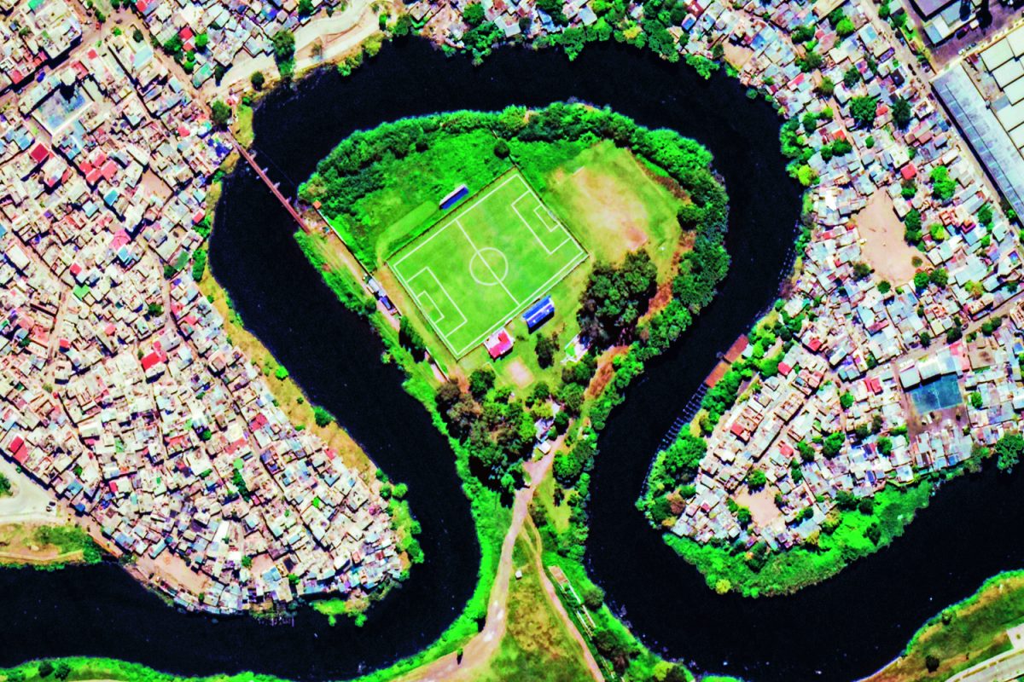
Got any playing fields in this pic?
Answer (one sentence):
Yes, a playing field appears in the view.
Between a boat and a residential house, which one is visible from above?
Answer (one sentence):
Looking from above, you can make out a residential house.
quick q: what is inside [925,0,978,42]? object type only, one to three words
building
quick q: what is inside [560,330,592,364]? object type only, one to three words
building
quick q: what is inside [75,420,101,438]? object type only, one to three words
house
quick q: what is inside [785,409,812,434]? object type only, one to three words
house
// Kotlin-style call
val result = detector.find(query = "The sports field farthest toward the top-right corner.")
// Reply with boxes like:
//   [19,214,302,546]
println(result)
[548,141,679,279]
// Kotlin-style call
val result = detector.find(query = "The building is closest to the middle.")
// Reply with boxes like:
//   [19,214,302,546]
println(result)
[483,328,513,357]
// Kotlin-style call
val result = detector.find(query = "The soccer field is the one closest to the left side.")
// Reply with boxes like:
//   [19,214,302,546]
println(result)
[387,166,589,361]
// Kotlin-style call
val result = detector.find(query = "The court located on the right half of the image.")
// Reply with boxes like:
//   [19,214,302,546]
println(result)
[912,375,964,416]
